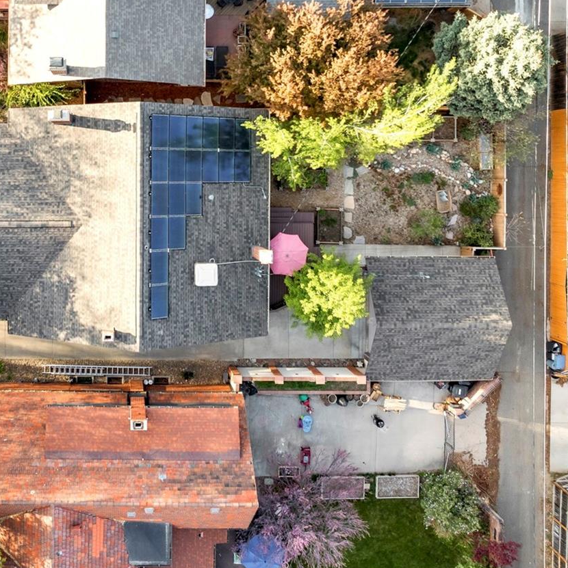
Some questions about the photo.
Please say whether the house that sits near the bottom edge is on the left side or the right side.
left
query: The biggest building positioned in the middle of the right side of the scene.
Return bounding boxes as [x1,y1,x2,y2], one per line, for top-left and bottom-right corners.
[359,255,512,382]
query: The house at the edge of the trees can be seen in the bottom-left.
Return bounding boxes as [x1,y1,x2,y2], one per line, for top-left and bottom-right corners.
[0,372,259,568]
